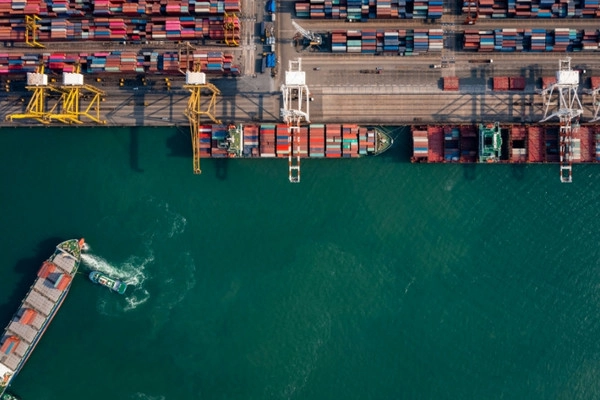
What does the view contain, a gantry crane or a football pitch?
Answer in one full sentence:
Looking from above, you can make out a gantry crane.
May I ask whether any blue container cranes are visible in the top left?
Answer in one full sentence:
No, no blue container crane is visible in the top left.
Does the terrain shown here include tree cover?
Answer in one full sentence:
No, there is no tree cover in the image.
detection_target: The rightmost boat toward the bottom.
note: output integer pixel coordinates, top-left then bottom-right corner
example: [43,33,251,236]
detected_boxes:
[90,271,128,295]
